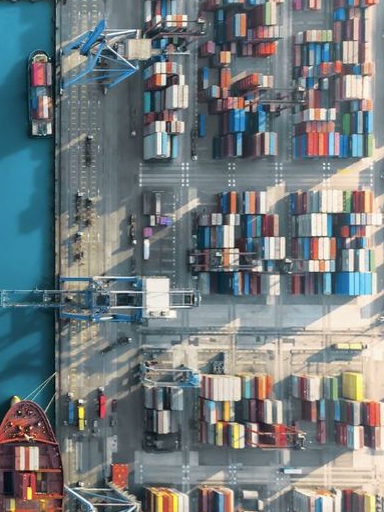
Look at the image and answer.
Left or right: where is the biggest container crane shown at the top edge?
left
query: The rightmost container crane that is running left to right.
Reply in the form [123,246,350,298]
[286,254,364,274]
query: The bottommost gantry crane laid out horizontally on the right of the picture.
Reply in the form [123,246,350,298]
[241,426,301,448]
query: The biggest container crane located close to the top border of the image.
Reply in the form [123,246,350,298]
[61,18,167,94]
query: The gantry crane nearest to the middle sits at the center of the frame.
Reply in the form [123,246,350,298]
[191,253,261,274]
